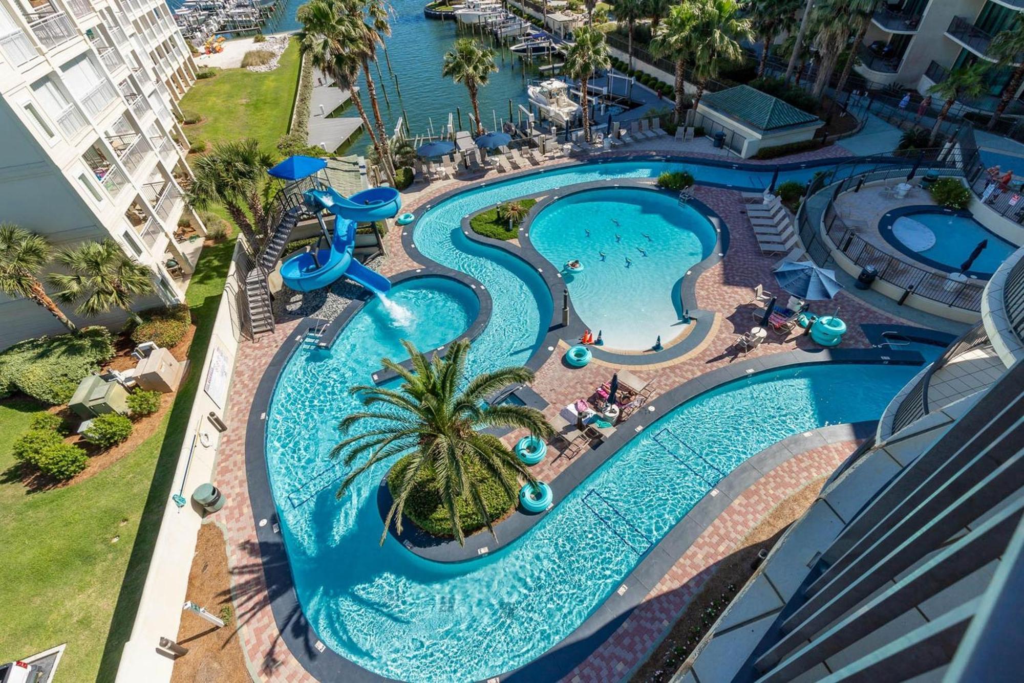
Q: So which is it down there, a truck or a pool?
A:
pool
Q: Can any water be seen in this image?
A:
Yes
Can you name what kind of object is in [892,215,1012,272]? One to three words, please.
swimming pool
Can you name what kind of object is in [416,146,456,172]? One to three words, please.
umbrella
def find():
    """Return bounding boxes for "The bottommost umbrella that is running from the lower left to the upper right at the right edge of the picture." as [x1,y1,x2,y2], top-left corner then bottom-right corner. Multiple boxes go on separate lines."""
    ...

[961,242,989,278]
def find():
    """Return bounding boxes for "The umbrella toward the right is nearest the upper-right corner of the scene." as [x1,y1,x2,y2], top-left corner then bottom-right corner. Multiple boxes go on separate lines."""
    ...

[905,156,923,189]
